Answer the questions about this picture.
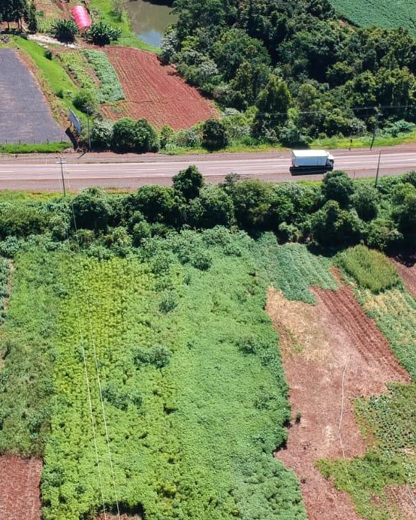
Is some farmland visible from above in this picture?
Yes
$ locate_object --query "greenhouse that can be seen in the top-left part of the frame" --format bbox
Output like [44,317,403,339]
[71,3,93,31]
